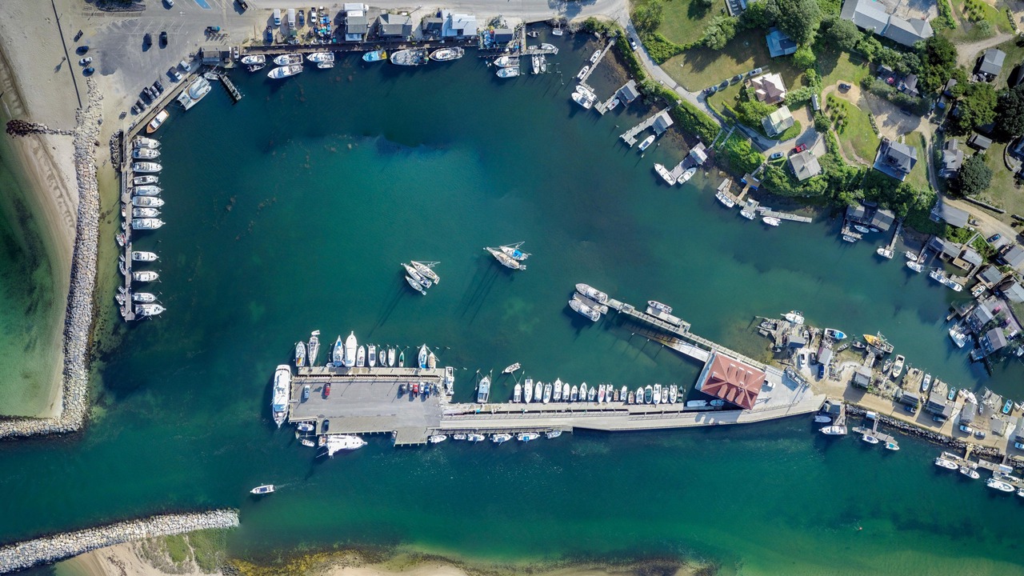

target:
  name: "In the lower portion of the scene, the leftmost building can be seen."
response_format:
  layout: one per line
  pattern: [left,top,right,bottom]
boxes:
[693,351,766,409]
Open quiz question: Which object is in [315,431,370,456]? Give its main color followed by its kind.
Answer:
white boat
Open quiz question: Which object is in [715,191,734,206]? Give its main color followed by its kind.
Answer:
white boat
